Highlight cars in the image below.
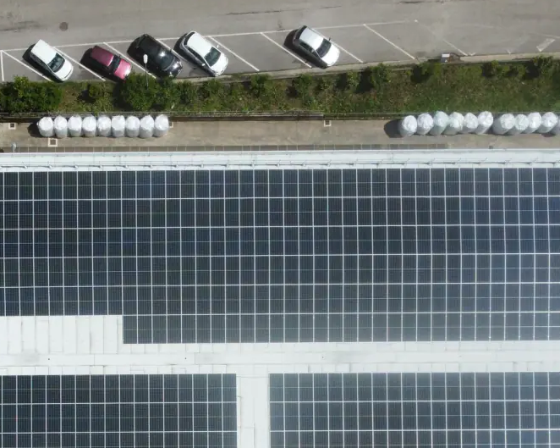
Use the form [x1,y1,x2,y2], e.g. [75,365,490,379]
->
[128,31,182,80]
[289,23,340,72]
[25,35,76,86]
[177,30,228,80]
[84,42,132,86]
